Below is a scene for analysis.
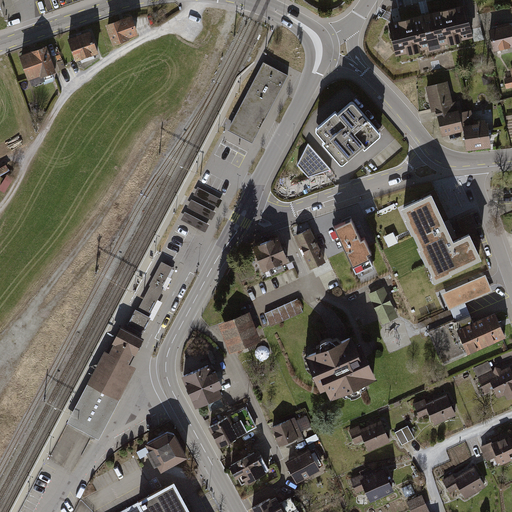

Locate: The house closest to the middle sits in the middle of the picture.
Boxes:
[255,239,294,277]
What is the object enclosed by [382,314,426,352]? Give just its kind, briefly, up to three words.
playground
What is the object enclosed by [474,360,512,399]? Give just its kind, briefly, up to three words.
house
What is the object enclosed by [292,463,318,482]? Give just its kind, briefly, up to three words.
solar panel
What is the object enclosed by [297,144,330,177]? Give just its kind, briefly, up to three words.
building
